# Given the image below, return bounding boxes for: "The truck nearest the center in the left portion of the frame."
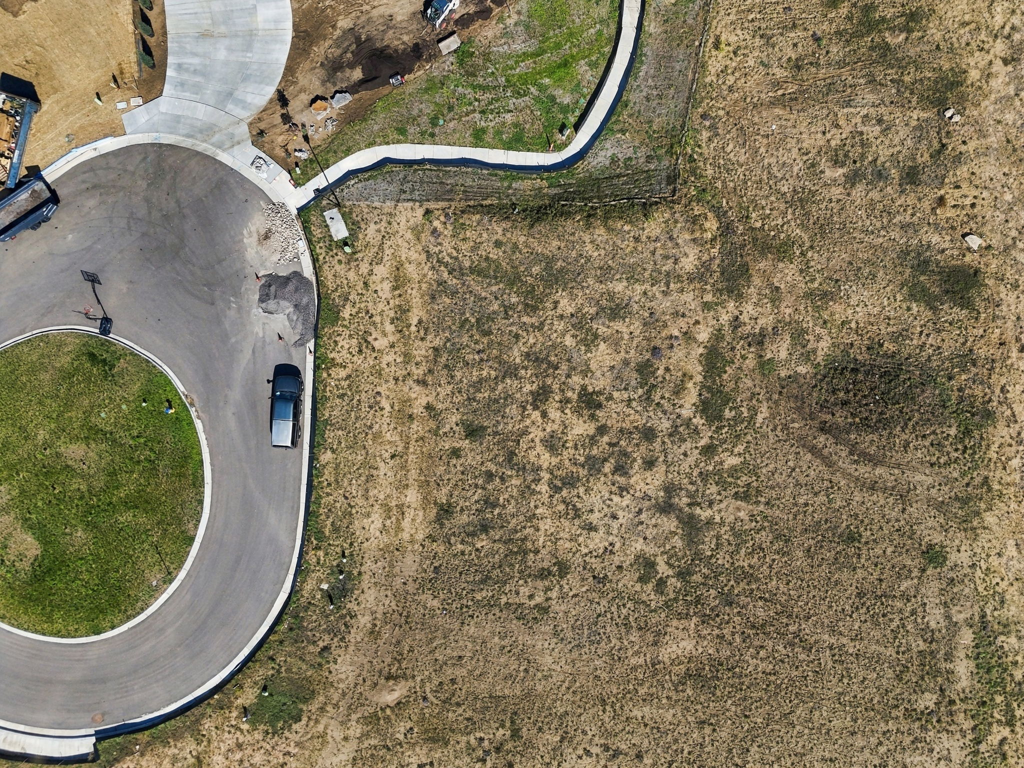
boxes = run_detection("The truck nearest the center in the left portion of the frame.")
[271,376,303,449]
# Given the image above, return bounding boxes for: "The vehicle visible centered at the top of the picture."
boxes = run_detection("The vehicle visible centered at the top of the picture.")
[421,0,459,38]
